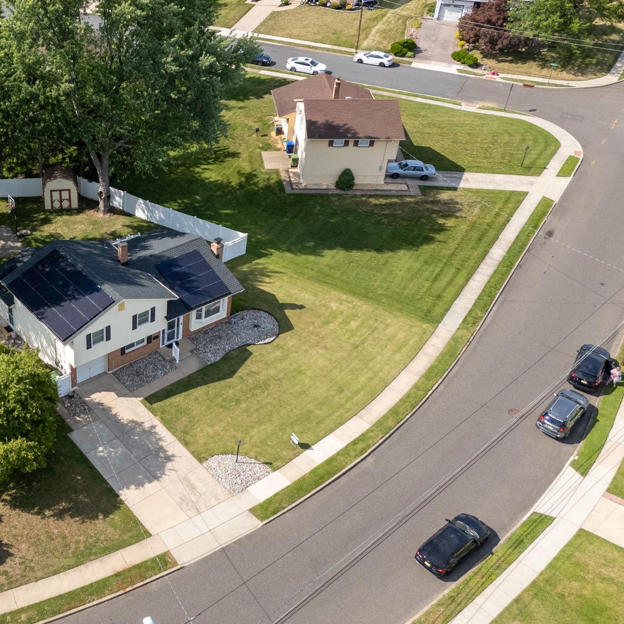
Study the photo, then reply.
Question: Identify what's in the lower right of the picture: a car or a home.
car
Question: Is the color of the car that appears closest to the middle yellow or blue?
blue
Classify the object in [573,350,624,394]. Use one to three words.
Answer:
car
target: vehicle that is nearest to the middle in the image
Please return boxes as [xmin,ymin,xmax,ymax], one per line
[386,160,437,180]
